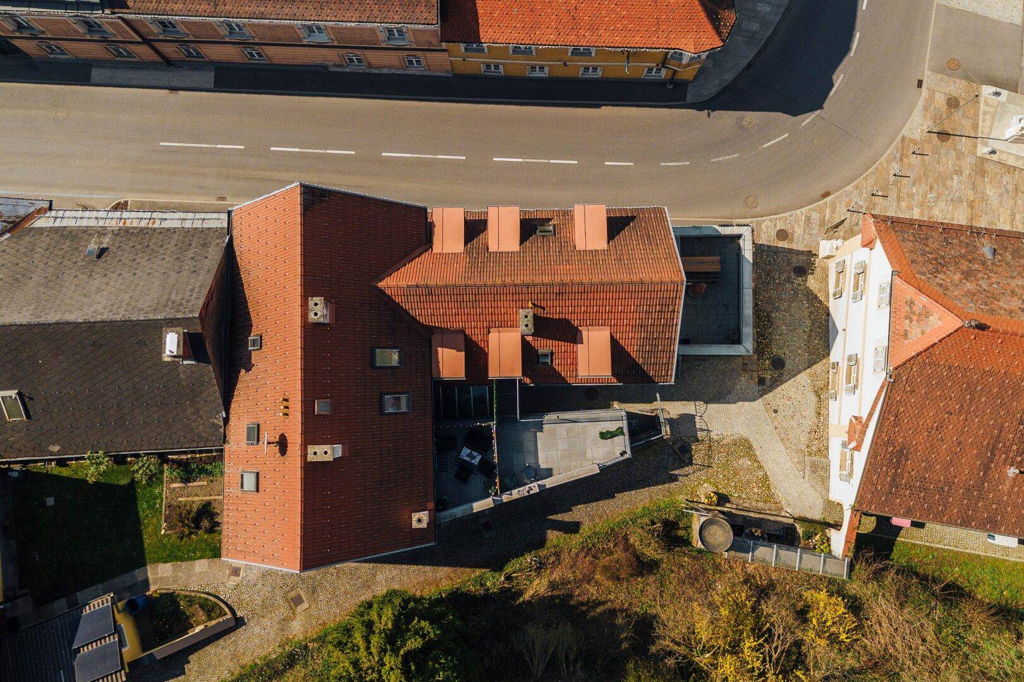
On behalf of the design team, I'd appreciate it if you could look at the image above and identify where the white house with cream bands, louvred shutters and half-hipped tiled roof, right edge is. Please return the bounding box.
[821,215,1024,542]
